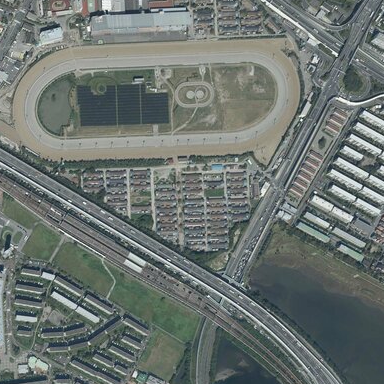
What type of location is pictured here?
sports ground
